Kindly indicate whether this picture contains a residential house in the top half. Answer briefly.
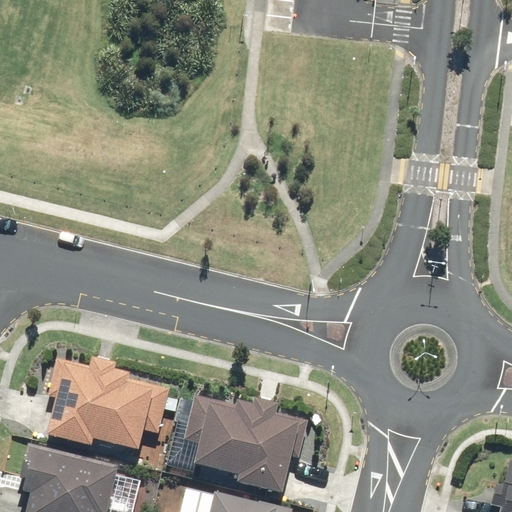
No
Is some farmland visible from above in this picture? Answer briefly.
No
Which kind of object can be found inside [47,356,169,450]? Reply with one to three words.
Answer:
house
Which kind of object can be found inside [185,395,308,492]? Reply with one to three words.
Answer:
house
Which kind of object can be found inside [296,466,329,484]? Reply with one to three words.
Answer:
car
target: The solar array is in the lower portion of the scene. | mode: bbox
[53,378,76,418]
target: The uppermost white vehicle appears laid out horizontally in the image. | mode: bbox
[58,232,84,248]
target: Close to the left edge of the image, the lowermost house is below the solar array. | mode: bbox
[16,443,118,512]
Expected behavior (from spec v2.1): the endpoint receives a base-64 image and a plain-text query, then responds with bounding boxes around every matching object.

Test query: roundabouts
[390,324,458,392]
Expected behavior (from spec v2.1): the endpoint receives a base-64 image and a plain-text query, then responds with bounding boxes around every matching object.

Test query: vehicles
[58,232,84,248]
[464,501,498,512]
[0,220,16,234]
[296,466,329,484]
